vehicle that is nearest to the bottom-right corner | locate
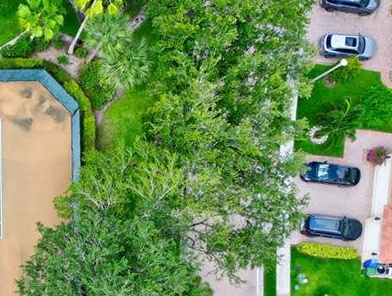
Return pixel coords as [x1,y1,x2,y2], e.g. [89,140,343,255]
[300,214,361,241]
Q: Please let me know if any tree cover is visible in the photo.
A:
Yes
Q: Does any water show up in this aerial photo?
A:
No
